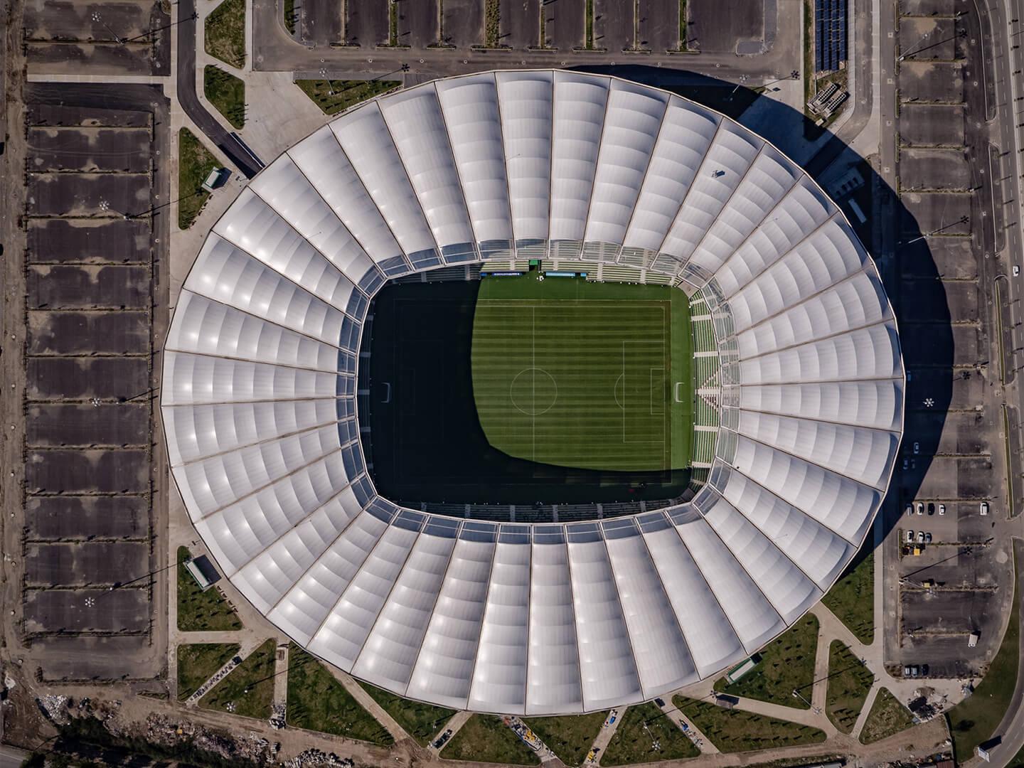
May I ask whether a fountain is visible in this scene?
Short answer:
No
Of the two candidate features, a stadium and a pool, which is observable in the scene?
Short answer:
stadium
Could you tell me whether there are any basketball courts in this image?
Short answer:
No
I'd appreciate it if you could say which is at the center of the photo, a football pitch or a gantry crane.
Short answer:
football pitch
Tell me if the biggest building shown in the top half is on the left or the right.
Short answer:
right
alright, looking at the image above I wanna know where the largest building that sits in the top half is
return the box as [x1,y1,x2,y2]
[826,173,864,204]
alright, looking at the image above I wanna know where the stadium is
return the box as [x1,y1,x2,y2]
[158,67,907,718]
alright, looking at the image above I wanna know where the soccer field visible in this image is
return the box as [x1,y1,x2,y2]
[395,300,671,484]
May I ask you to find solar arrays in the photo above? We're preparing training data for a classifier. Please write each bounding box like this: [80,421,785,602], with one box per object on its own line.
[815,0,823,70]
[823,0,830,70]
[830,0,839,70]
[838,0,846,60]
